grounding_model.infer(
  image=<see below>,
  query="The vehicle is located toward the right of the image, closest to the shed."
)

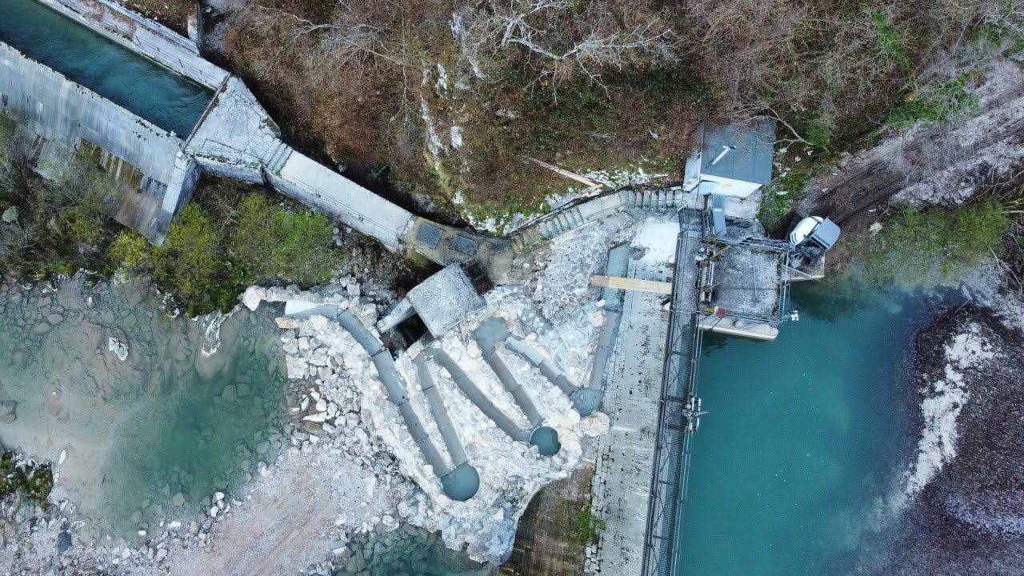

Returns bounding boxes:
[771,205,840,263]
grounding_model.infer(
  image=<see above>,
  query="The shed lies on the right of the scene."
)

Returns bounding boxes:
[678,117,774,198]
